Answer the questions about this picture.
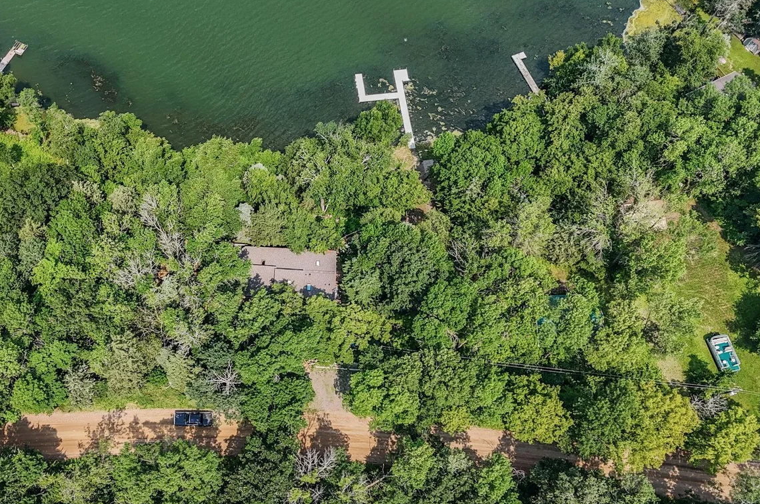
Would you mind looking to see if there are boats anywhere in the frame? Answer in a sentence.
Yes, a boat appears in the view.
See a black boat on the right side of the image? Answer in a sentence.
No, no black boat is visible on the right side of the image.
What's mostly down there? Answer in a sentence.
For the most part, this view shows trees.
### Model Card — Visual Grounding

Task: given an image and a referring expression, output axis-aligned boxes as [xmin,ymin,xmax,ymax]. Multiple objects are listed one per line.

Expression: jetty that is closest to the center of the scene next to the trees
[355,67,415,149]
